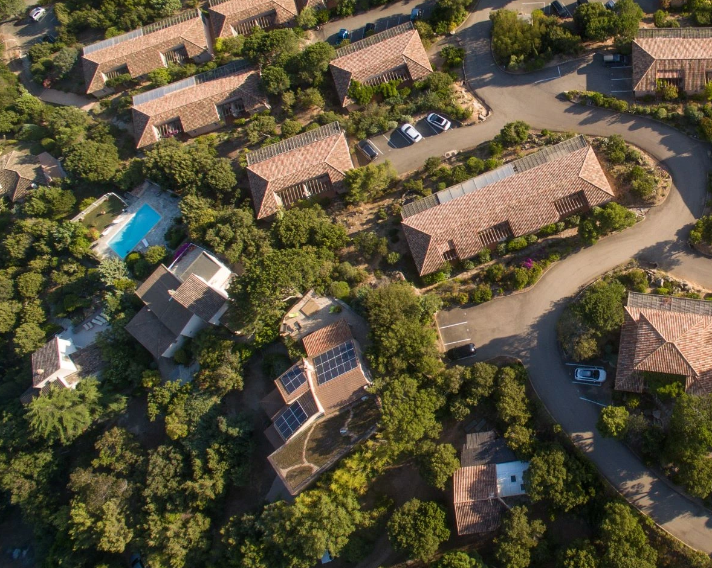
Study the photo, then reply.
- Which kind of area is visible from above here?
residential area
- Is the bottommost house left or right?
right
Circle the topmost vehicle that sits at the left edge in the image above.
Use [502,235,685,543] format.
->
[24,6,51,24]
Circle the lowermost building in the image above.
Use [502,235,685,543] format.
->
[455,461,529,536]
